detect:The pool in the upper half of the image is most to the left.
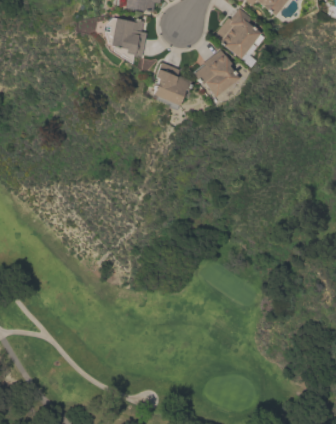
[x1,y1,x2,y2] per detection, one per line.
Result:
[276,0,302,22]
